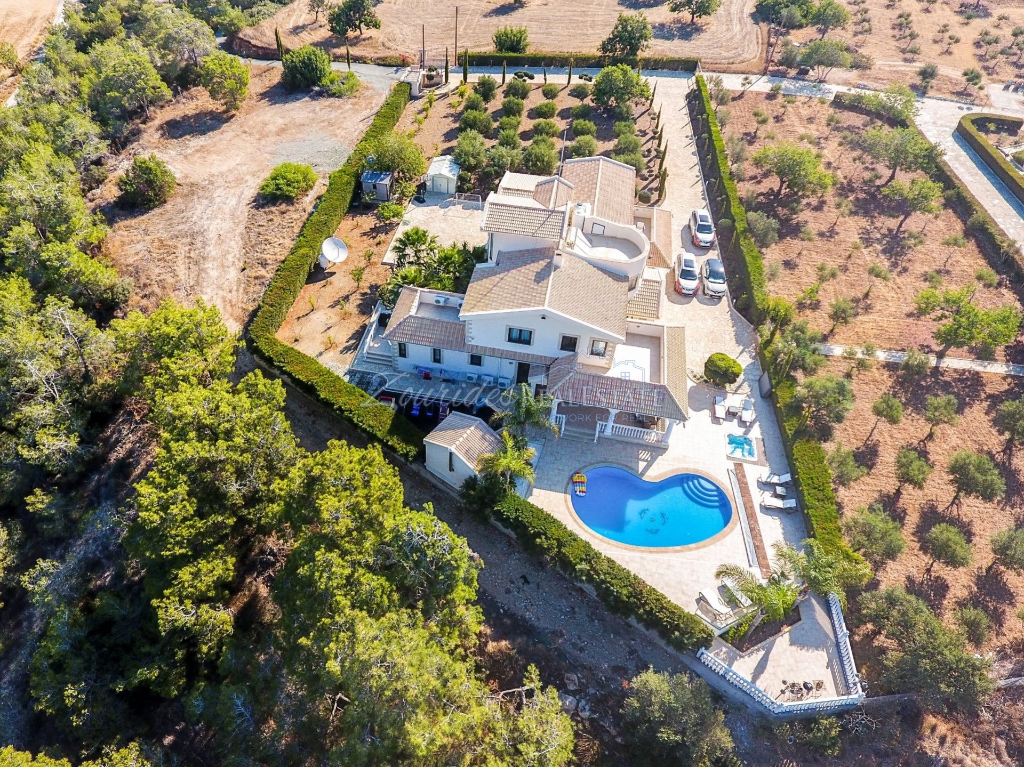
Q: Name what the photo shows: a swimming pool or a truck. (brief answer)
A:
swimming pool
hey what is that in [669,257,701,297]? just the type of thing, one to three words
car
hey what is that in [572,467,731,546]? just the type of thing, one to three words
swimming pool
